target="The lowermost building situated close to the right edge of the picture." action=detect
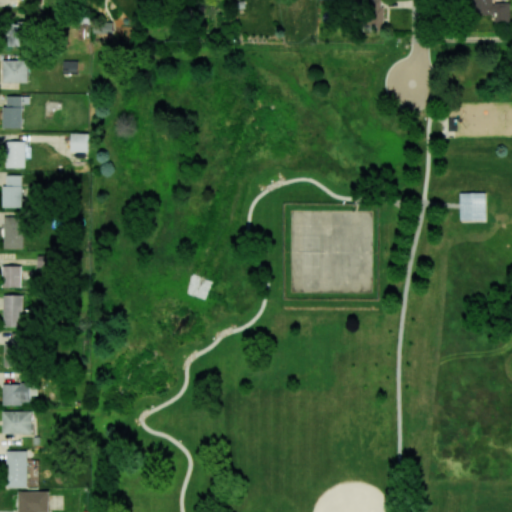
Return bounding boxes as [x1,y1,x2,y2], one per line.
[460,192,487,223]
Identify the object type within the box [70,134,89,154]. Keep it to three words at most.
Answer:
building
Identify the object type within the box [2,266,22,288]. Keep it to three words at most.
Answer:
house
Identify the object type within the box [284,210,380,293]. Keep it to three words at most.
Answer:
tennis court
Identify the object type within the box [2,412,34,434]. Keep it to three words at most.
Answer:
house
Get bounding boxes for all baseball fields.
[313,480,386,512]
